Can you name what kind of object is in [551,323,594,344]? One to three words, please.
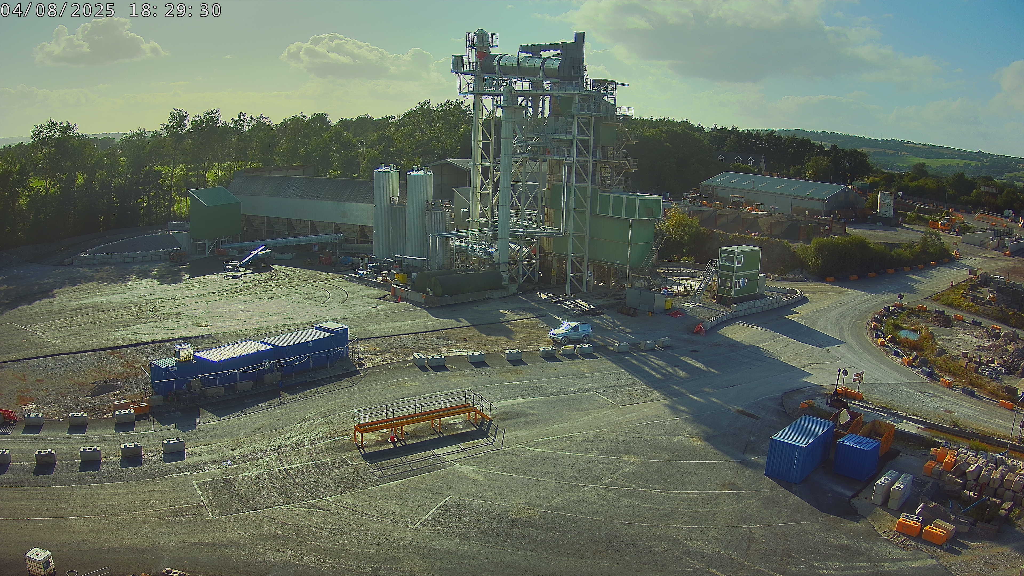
car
